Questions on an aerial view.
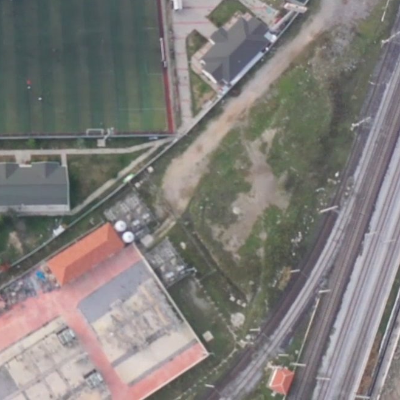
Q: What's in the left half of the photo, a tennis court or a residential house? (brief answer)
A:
residential house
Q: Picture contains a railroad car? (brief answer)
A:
No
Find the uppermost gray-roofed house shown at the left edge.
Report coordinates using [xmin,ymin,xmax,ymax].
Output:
[0,162,70,214]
